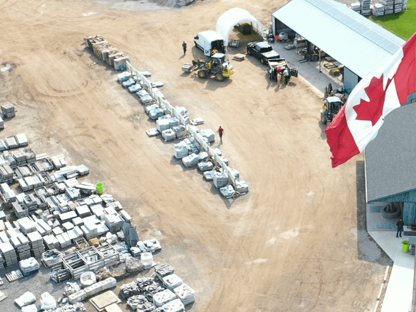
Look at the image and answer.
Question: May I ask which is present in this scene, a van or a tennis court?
van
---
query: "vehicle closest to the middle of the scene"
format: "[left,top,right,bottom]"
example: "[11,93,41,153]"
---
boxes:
[191,56,234,79]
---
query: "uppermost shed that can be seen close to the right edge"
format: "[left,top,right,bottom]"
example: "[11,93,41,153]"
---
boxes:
[269,0,416,108]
